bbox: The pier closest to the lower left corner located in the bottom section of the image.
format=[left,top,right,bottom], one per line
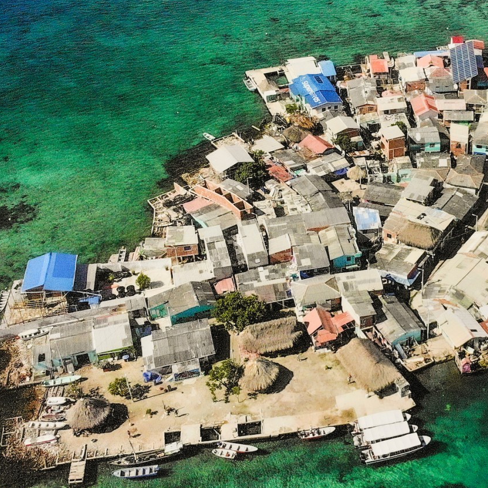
[68,458,87,487]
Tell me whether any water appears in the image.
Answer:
Yes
